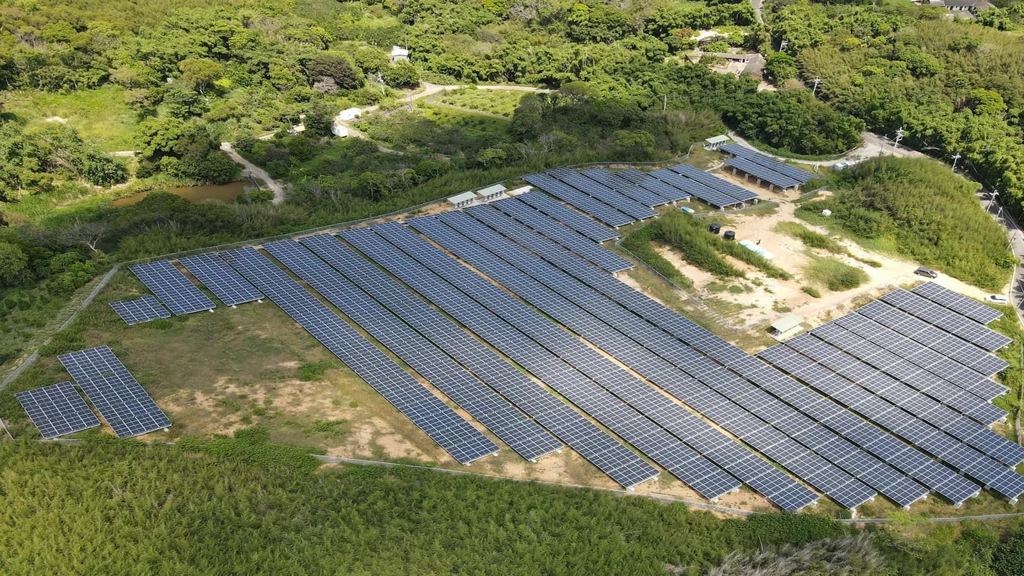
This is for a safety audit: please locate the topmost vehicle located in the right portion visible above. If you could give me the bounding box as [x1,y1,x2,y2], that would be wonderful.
[915,266,938,279]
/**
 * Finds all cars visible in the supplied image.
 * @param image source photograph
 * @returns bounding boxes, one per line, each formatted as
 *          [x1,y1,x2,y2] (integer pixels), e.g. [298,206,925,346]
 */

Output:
[984,294,1010,305]
[915,266,938,279]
